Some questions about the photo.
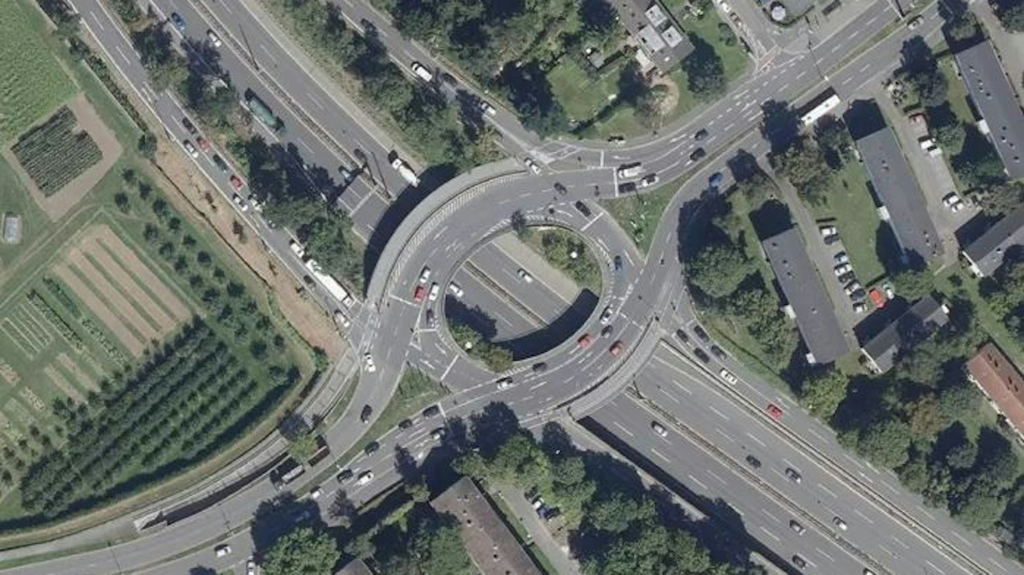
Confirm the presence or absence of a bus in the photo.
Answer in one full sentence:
Yes, you can see a bus in this photo.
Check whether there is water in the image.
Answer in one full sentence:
No, there's no water in this view.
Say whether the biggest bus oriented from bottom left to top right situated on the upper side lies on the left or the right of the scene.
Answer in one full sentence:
It is on the right.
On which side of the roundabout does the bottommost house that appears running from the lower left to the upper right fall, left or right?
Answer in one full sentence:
To the right of the roundabout is where the bottommost house that appears running from the lower left to the upper right appears.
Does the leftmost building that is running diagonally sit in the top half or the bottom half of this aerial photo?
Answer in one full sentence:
You can find the leftmost building that is running diagonally in the bottom half.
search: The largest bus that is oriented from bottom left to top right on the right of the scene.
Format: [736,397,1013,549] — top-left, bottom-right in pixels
[796,91,844,128]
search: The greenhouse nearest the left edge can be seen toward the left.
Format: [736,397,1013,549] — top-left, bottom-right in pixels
[4,216,19,243]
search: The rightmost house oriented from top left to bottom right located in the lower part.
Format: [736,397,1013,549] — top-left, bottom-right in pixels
[964,343,1024,439]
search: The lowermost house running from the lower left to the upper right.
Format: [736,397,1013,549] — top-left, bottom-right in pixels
[863,295,949,372]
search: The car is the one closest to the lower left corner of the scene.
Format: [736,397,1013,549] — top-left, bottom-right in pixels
[214,545,232,557]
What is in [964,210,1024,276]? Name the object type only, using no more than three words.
house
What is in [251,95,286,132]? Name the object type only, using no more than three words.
truck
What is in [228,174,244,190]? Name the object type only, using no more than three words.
car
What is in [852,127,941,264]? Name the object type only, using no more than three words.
building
